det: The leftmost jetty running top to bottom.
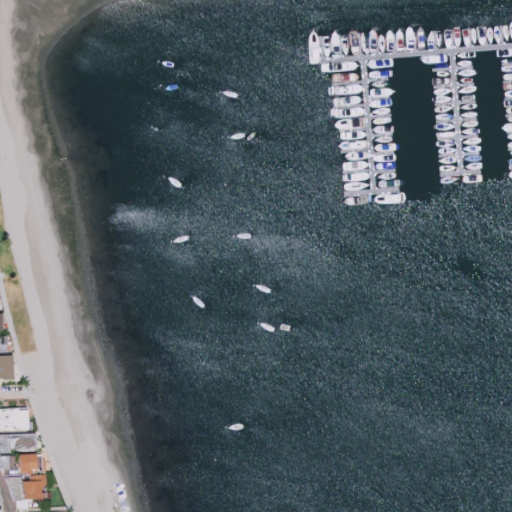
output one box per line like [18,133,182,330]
[333,60,396,190]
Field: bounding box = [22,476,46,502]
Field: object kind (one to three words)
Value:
house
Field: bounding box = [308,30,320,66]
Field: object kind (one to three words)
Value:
boat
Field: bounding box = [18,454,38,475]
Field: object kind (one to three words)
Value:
house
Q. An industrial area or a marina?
marina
